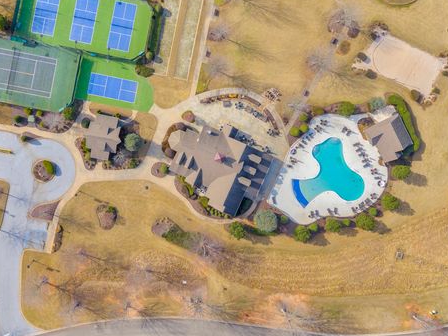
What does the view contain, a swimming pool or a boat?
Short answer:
swimming pool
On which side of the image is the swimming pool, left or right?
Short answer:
right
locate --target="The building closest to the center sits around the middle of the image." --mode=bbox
[166,121,282,216]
